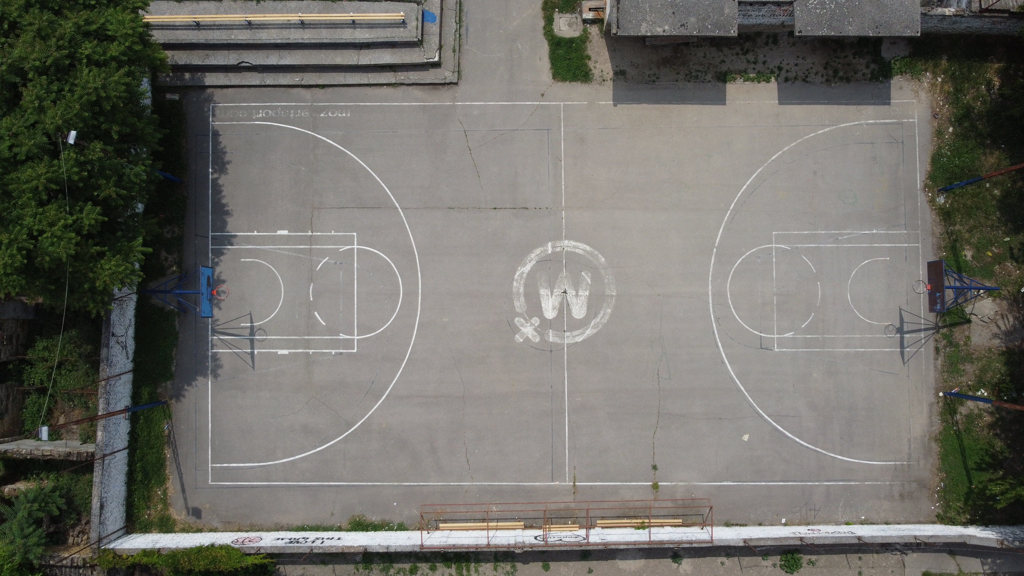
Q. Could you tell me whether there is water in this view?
No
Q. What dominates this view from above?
paved ground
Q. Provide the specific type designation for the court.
basketball court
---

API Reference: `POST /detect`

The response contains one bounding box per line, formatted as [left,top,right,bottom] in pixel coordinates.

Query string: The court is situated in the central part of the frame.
[195,21,924,488]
